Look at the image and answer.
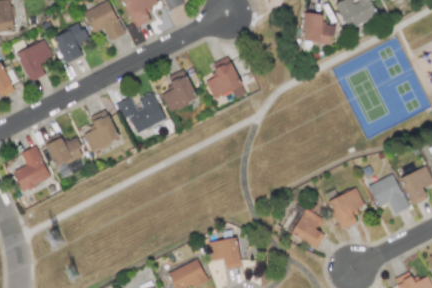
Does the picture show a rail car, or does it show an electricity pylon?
electricity pylon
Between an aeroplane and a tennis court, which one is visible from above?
tennis court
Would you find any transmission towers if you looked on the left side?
Yes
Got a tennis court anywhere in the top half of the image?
Yes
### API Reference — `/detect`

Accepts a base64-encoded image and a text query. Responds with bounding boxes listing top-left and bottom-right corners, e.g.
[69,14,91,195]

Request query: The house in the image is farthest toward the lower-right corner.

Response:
[398,272,432,288]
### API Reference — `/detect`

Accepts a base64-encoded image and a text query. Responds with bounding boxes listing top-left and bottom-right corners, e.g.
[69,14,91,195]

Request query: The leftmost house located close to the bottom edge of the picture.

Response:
[171,259,210,288]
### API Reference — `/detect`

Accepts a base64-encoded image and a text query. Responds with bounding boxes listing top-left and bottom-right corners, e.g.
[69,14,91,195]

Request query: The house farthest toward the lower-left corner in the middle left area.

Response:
[15,146,50,191]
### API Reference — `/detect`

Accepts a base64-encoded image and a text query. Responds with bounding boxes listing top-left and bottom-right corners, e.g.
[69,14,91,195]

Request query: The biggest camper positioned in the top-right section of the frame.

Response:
[324,6,336,24]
